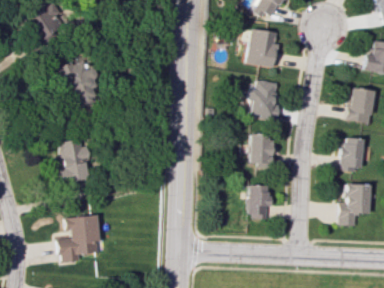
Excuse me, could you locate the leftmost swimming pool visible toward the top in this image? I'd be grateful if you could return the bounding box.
[214,49,228,64]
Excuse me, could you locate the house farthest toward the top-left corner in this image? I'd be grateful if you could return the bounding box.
[35,2,64,44]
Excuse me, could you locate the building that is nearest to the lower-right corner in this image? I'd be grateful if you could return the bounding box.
[338,184,374,226]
